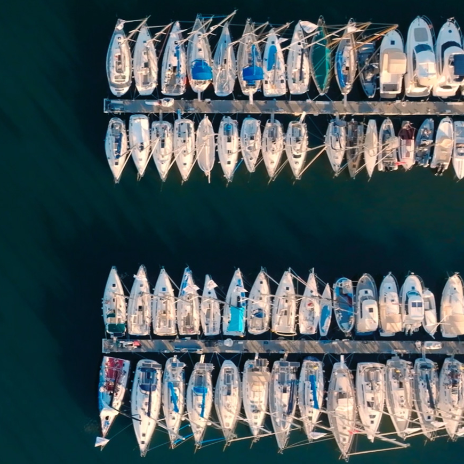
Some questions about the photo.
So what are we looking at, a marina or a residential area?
marina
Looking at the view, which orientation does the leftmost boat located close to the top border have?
up and down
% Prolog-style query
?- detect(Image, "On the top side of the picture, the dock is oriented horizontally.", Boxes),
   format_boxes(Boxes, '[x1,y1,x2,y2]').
[103,99,464,115]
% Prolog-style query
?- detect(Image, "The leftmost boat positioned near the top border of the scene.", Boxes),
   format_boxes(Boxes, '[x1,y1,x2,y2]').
[105,14,148,99]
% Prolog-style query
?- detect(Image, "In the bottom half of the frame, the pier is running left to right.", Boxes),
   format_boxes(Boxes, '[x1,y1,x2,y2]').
[102,338,464,354]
